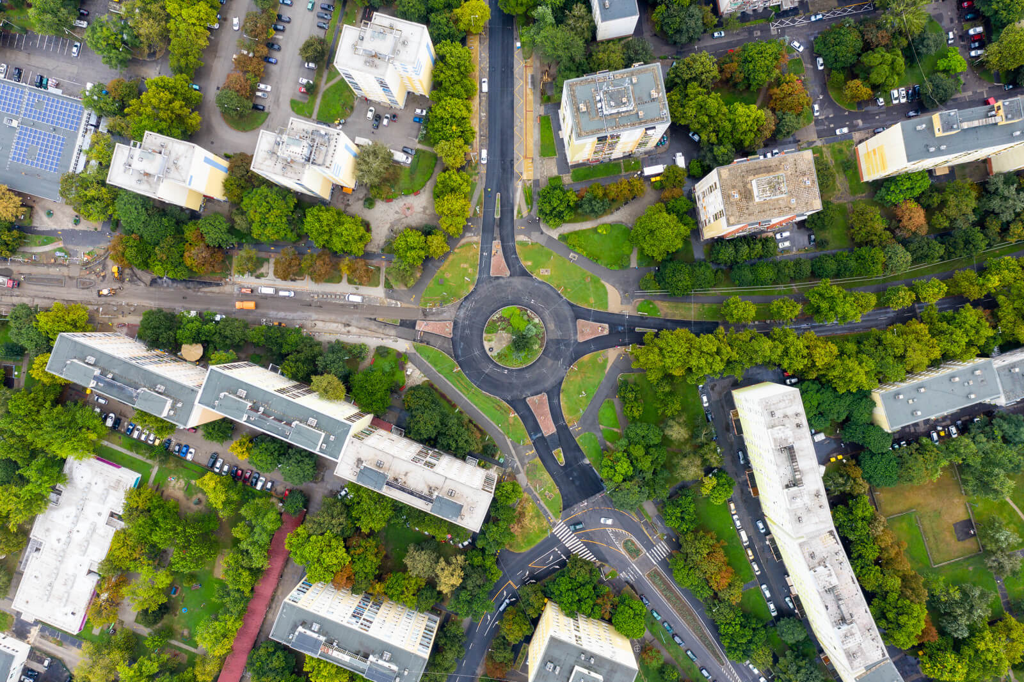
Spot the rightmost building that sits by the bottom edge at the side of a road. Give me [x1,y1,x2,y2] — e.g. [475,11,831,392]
[524,600,638,682]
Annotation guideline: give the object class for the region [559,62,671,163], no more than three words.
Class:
building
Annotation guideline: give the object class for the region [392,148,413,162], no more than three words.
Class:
vehicle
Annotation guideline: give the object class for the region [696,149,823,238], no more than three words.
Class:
building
